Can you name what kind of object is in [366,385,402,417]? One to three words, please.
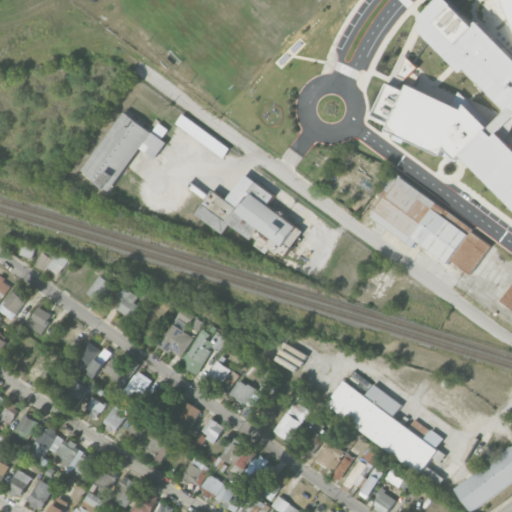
shed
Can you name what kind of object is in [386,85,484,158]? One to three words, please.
building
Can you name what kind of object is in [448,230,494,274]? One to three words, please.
building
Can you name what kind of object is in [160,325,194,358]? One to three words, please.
house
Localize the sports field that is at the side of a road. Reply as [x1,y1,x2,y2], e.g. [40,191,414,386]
[118,0,322,103]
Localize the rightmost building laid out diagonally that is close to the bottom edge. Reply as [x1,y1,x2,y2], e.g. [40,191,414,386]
[453,444,512,510]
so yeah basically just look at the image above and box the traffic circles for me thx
[296,73,365,143]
